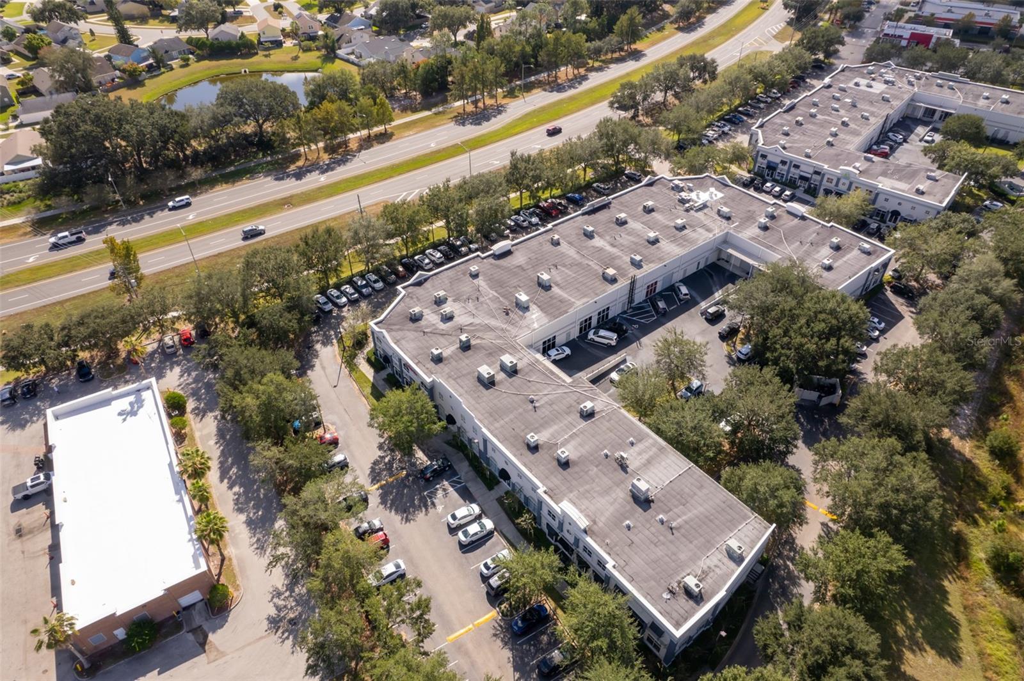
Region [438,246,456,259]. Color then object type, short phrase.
black vehicle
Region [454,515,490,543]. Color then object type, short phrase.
white car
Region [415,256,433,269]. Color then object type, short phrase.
gray vehicle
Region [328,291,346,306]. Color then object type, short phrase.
gray car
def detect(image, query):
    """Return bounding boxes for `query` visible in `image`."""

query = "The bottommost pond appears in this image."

[160,71,324,114]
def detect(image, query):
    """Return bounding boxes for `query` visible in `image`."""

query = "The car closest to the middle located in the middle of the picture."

[544,346,571,363]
